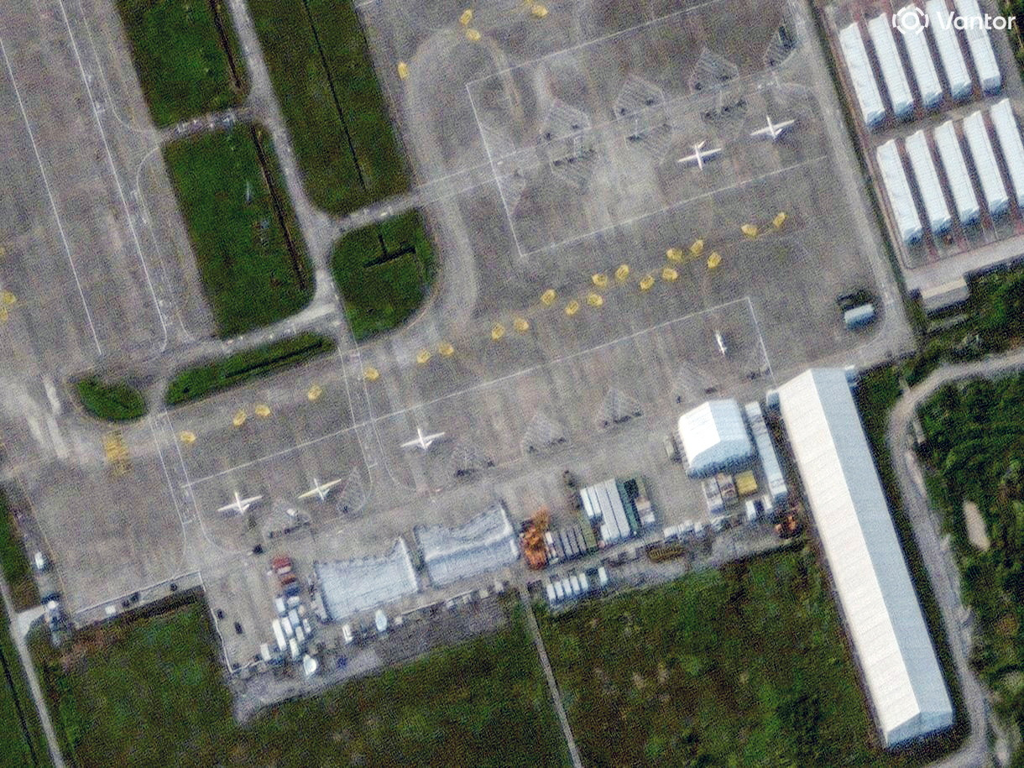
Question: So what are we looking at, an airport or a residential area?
airport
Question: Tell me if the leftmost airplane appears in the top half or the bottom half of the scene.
bottom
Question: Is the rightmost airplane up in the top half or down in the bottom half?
top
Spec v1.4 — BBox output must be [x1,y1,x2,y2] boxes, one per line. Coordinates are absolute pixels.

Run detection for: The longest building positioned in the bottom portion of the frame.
[766,368,952,743]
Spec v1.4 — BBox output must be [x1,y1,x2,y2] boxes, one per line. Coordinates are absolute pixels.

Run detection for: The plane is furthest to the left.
[218,493,261,514]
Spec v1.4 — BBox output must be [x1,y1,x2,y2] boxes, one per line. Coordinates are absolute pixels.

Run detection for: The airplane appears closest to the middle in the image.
[401,429,444,450]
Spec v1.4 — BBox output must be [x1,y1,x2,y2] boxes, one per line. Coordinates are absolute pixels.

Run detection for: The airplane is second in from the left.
[298,479,341,501]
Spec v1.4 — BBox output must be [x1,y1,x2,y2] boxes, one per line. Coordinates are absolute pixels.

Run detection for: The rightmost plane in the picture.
[750,118,793,138]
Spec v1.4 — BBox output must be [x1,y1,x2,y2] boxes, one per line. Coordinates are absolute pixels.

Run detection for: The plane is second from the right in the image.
[677,143,721,167]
